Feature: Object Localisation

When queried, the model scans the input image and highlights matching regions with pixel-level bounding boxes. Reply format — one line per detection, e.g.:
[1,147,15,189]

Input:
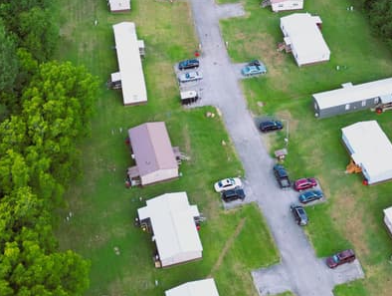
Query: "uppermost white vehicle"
[177,70,206,84]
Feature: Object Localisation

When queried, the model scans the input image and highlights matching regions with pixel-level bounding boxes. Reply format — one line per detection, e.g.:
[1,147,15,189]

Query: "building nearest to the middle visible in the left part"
[126,122,187,188]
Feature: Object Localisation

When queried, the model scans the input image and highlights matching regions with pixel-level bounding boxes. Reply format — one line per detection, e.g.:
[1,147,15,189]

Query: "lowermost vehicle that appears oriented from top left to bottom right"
[287,200,309,228]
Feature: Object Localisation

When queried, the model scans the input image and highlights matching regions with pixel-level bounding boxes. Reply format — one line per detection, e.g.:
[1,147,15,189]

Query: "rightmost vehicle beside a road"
[326,248,356,269]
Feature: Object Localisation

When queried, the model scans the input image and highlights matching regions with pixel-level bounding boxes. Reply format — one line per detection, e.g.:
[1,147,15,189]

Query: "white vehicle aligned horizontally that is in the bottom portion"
[213,176,242,192]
